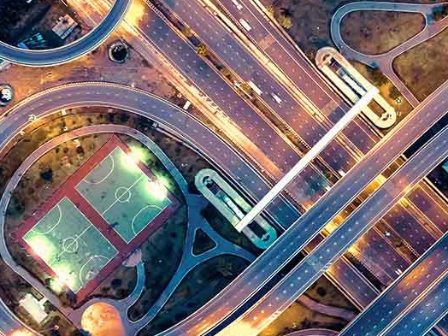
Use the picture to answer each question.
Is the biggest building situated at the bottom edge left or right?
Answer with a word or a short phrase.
left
